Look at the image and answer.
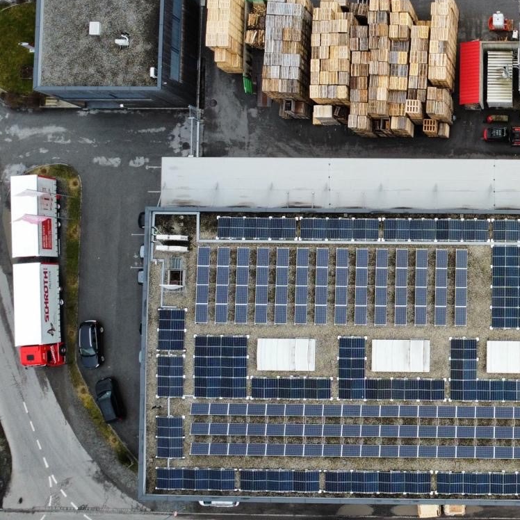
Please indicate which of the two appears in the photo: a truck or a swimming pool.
truck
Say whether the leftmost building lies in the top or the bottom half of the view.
top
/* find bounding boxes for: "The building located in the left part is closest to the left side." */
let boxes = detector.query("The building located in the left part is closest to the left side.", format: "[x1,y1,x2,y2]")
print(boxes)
[35,0,200,109]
